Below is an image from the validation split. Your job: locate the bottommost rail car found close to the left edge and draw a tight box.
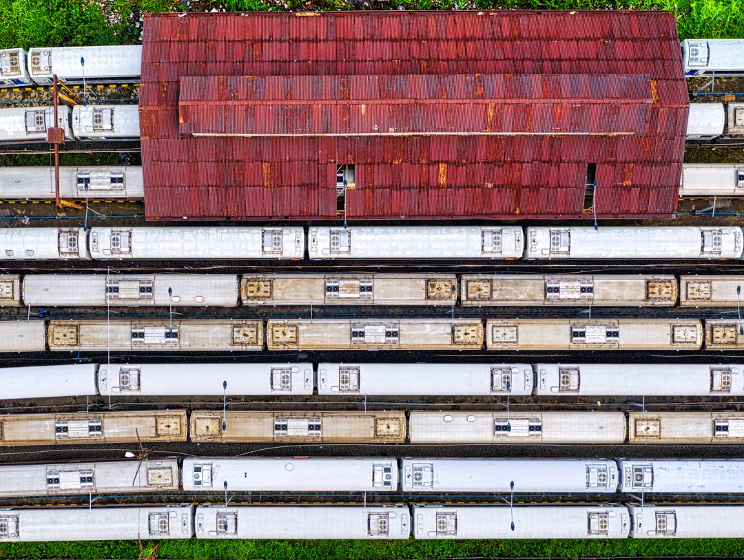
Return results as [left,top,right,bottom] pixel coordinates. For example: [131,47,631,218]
[0,503,196,542]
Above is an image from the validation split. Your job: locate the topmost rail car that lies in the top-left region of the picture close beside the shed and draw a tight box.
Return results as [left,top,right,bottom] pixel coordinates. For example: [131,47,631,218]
[28,44,143,85]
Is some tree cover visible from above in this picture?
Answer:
No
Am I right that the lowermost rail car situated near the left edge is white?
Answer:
Yes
